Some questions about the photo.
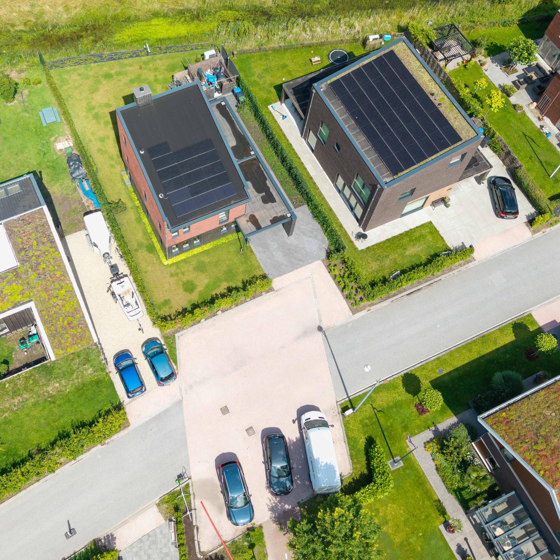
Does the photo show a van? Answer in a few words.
Yes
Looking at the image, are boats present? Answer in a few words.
Yes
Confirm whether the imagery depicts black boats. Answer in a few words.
No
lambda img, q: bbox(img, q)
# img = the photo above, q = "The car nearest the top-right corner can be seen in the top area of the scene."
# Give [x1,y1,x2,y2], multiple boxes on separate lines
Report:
[489,178,522,221]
